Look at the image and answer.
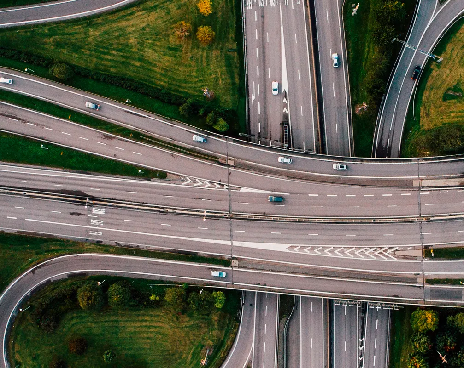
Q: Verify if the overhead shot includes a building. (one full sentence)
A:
No, no building can be seen from above.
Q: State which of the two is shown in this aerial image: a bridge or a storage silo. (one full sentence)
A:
I can see a bridge in this picture.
